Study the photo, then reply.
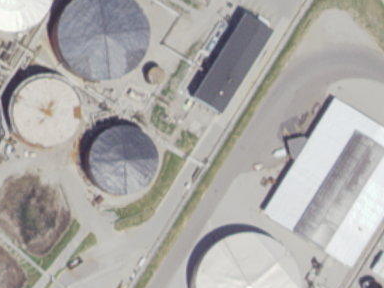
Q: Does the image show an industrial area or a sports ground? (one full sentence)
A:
This image shows an industrial area.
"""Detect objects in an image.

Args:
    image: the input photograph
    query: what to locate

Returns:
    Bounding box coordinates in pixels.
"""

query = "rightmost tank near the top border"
[52,0,152,84]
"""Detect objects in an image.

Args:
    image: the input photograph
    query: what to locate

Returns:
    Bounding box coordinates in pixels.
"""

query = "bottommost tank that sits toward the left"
[84,124,158,196]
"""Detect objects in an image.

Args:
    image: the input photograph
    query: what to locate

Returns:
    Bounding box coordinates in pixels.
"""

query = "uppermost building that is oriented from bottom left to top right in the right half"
[190,10,272,114]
